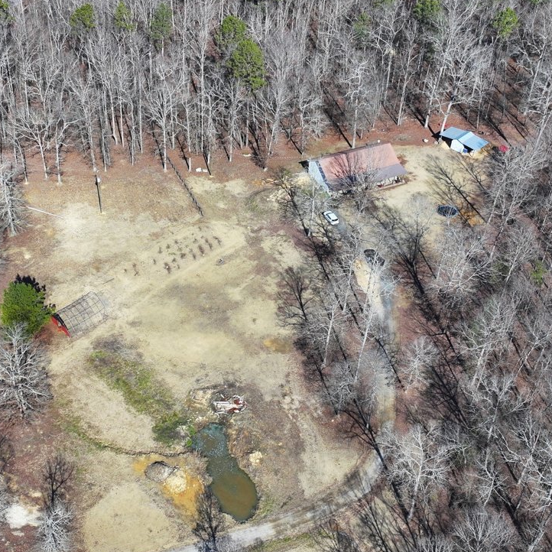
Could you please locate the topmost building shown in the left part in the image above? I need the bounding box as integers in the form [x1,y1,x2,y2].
[51,295,108,336]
